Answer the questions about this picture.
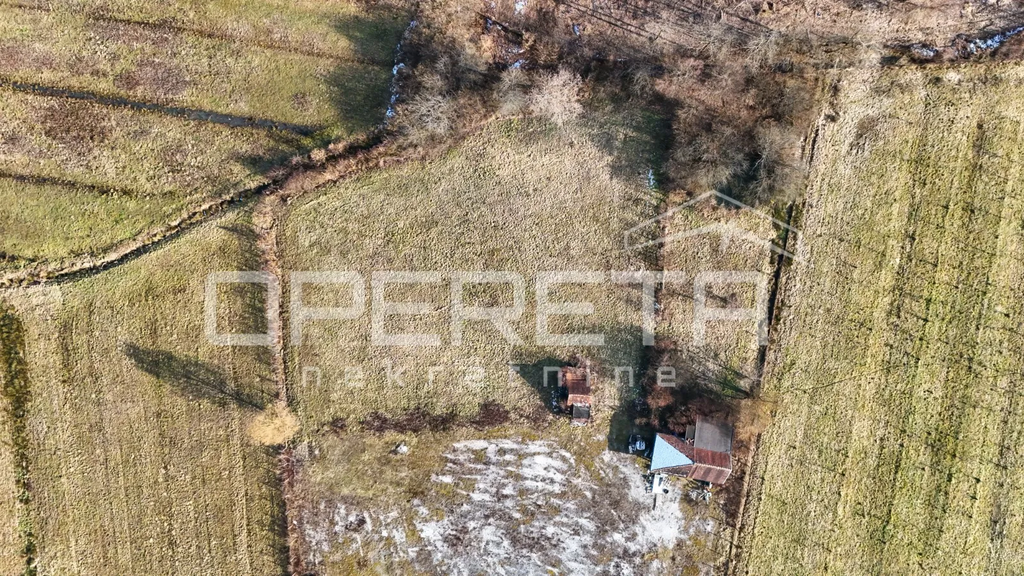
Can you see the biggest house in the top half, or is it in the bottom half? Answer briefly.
bottom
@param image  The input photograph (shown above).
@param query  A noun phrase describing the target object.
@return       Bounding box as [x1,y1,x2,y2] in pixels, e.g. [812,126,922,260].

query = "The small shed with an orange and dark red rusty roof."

[566,366,592,406]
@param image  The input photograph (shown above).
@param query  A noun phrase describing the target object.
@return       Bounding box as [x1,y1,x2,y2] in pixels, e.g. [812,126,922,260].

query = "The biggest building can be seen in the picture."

[650,414,734,485]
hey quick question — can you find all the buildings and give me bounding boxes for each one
[566,366,592,406]
[650,414,734,485]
